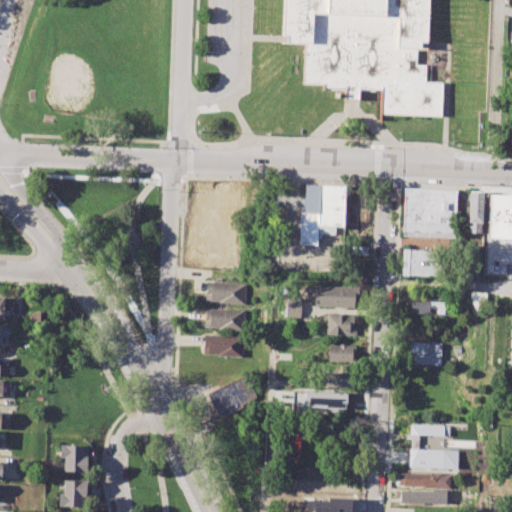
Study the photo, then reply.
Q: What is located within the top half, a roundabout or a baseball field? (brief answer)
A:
baseball field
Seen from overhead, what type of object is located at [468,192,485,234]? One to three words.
building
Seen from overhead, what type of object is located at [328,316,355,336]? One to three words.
house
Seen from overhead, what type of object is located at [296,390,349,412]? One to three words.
house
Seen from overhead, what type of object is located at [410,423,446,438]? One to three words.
building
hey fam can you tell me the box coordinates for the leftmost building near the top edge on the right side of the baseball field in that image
[282,0,444,118]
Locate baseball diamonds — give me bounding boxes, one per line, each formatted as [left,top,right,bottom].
[46,52,112,118]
